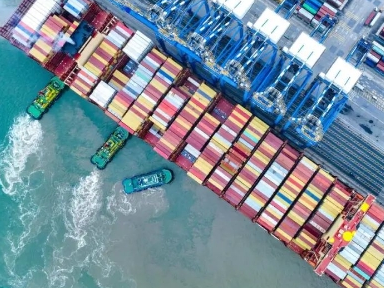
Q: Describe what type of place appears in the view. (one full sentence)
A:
The picture captures a port.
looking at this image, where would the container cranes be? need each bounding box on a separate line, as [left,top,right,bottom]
[248,11,341,128]
[203,0,304,107]
[114,0,212,64]
[278,35,376,149]
[153,0,253,85]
